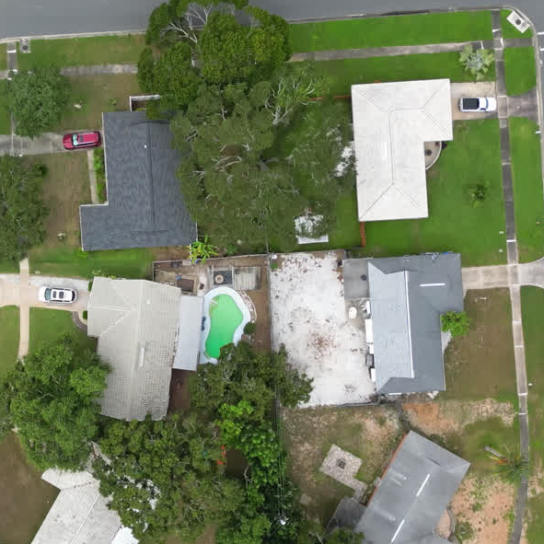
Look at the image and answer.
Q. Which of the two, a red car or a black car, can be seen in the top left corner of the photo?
red car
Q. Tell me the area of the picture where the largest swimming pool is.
center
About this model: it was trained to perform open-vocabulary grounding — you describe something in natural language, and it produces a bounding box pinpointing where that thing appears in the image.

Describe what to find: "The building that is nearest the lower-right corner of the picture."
[321,430,470,544]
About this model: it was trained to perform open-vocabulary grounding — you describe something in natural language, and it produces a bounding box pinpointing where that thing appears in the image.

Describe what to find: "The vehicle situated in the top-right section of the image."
[457,94,498,113]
